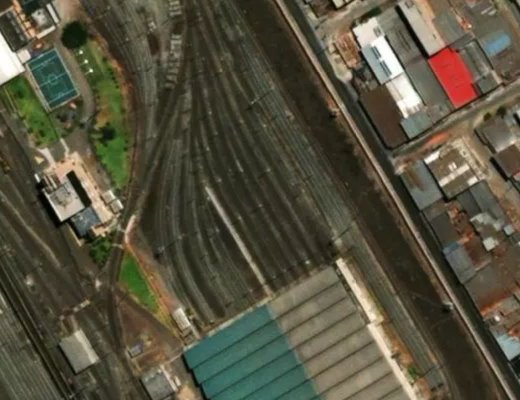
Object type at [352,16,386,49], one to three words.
building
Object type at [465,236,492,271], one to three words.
house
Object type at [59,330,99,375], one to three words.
shed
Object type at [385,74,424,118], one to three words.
house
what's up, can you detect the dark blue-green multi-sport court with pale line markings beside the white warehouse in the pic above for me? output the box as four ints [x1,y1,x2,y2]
[25,47,81,112]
